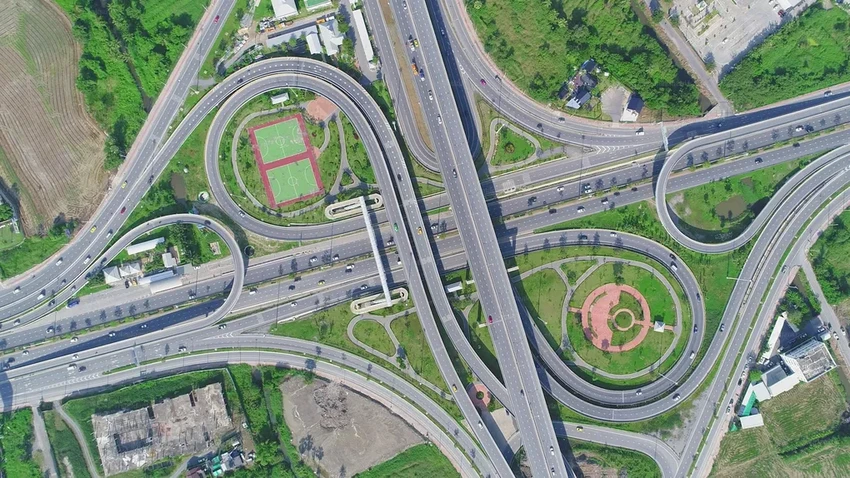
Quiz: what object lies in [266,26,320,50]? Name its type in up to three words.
shed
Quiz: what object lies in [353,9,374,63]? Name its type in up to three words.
shed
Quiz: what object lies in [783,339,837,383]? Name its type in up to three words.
building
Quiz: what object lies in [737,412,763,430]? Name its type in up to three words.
building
